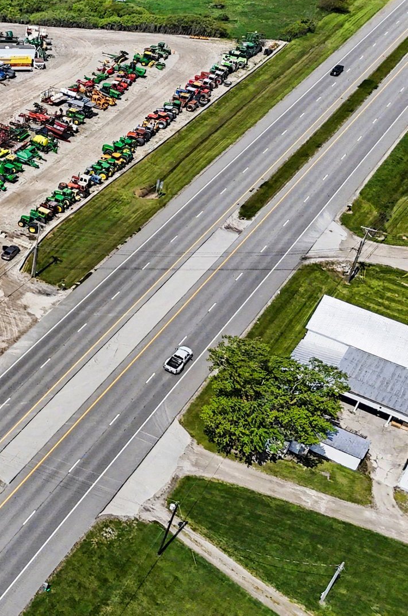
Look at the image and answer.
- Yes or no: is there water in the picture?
No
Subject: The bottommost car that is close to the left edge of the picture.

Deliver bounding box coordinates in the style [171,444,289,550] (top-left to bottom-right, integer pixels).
[0,245,22,260]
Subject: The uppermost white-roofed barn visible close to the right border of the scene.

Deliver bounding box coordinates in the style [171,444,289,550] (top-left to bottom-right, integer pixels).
[290,295,408,426]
